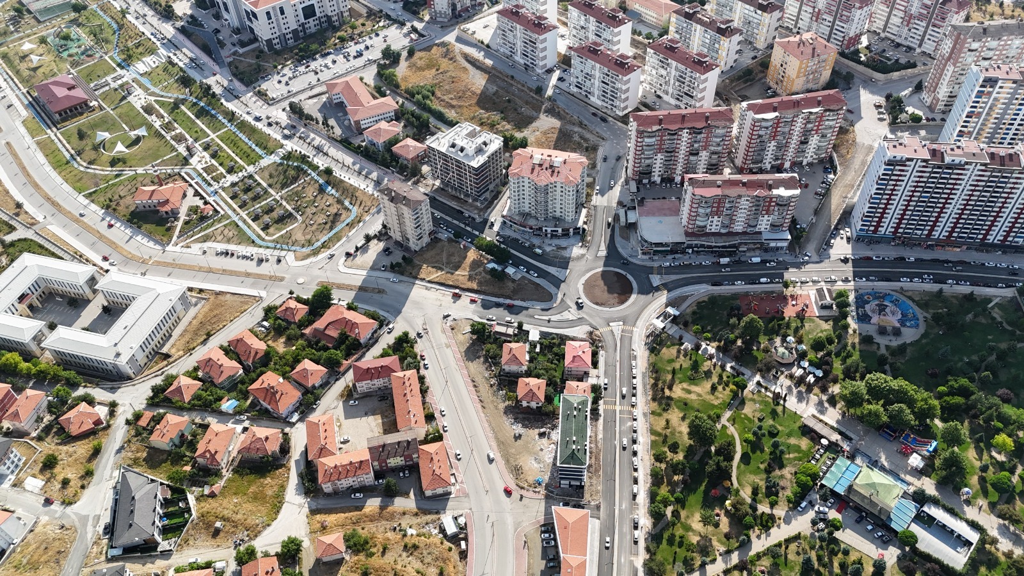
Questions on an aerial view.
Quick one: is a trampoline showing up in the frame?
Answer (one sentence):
No, I can see no trampoline in this picture.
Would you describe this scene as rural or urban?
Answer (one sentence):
This place is urban.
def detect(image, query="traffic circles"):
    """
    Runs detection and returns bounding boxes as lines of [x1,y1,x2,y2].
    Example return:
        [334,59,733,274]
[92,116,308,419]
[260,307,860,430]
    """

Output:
[579,268,637,309]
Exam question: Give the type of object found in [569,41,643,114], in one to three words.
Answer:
building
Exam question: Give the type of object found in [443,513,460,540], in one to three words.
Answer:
shed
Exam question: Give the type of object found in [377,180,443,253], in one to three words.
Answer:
building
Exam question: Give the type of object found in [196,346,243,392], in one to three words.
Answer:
house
